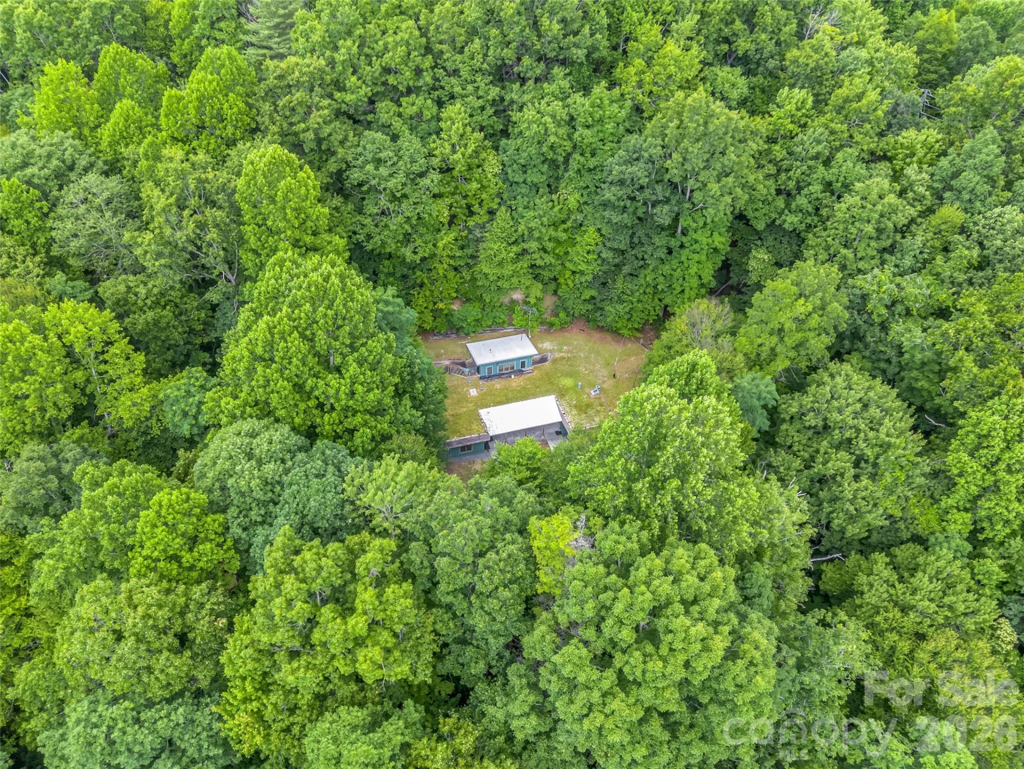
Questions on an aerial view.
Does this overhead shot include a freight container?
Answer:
No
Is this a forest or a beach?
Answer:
forest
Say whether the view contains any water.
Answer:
No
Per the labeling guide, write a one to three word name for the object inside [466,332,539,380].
building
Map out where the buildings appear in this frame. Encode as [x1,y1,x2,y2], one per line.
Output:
[466,332,539,380]
[434,394,567,468]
